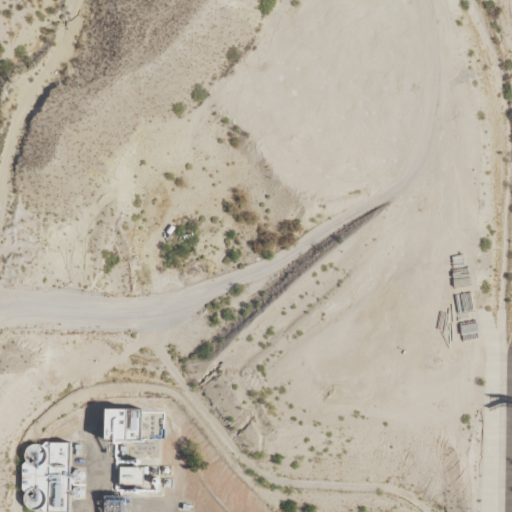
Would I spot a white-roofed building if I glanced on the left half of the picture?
Yes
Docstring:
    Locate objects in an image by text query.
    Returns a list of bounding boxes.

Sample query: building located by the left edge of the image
[22,440,73,512]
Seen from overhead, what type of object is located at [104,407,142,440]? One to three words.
building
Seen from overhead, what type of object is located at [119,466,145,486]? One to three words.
building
